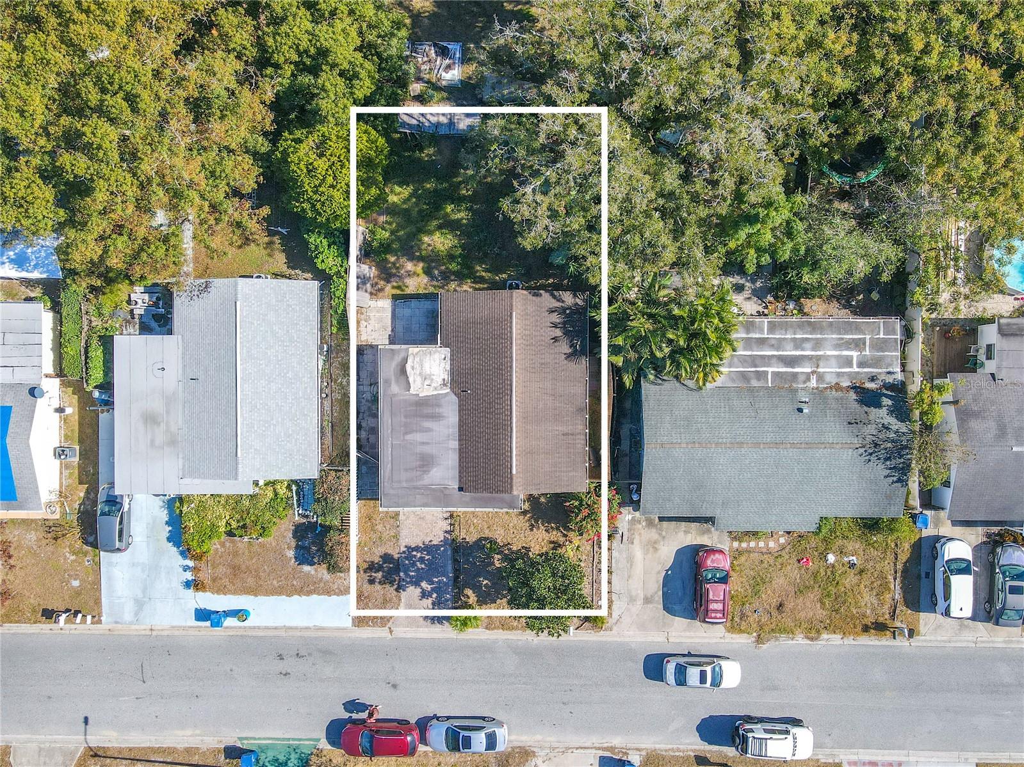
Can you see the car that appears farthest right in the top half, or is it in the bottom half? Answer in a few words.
bottom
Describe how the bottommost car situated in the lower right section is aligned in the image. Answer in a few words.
horizontally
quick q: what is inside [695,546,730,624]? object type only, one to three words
car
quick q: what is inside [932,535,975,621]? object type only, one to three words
car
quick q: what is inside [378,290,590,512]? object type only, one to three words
house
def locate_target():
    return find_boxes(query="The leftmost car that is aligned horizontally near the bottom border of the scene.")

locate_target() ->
[342,719,421,757]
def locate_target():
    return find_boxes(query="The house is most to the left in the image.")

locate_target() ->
[0,301,60,512]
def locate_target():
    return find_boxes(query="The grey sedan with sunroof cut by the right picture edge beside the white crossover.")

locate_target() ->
[985,542,1024,628]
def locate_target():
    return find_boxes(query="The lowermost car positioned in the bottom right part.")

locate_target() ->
[733,718,815,760]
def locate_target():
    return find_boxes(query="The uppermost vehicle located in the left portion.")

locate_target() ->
[96,483,134,554]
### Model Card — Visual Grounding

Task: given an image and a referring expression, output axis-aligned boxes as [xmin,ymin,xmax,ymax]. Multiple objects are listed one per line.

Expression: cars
[932,535,975,621]
[985,542,1024,628]
[96,483,134,554]
[342,719,421,757]
[695,546,730,624]
[733,718,815,760]
[425,716,508,753]
[662,653,740,689]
